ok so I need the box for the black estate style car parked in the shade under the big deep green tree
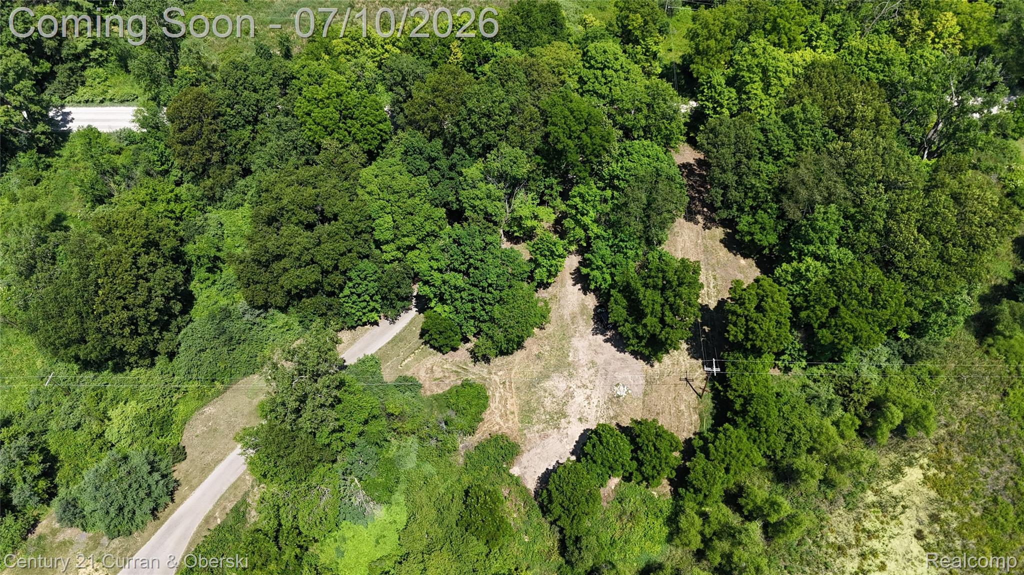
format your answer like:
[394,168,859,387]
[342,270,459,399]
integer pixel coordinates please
[594,309,613,328]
